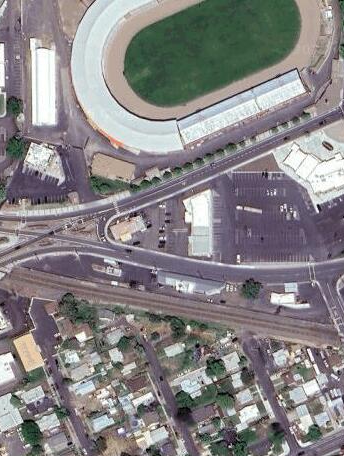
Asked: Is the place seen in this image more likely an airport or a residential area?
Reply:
residential area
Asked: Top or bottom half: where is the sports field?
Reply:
top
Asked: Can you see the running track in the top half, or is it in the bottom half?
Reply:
top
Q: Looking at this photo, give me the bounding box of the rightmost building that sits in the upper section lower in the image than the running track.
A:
[283,143,344,194]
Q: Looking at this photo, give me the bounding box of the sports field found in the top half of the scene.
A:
[127,0,298,104]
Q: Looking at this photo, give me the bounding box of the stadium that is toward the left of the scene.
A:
[71,0,183,160]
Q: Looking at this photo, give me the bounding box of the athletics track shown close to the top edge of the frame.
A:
[106,0,317,123]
